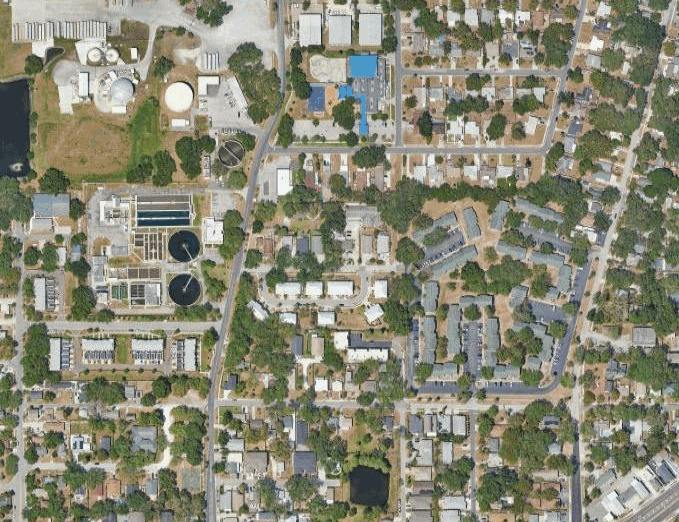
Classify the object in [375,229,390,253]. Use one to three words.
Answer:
house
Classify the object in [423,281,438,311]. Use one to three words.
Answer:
building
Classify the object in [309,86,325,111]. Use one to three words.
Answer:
sports court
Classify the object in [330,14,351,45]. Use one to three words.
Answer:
building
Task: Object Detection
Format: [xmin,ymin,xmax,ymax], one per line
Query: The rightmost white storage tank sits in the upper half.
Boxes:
[164,82,194,111]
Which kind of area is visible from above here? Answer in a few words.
residential area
